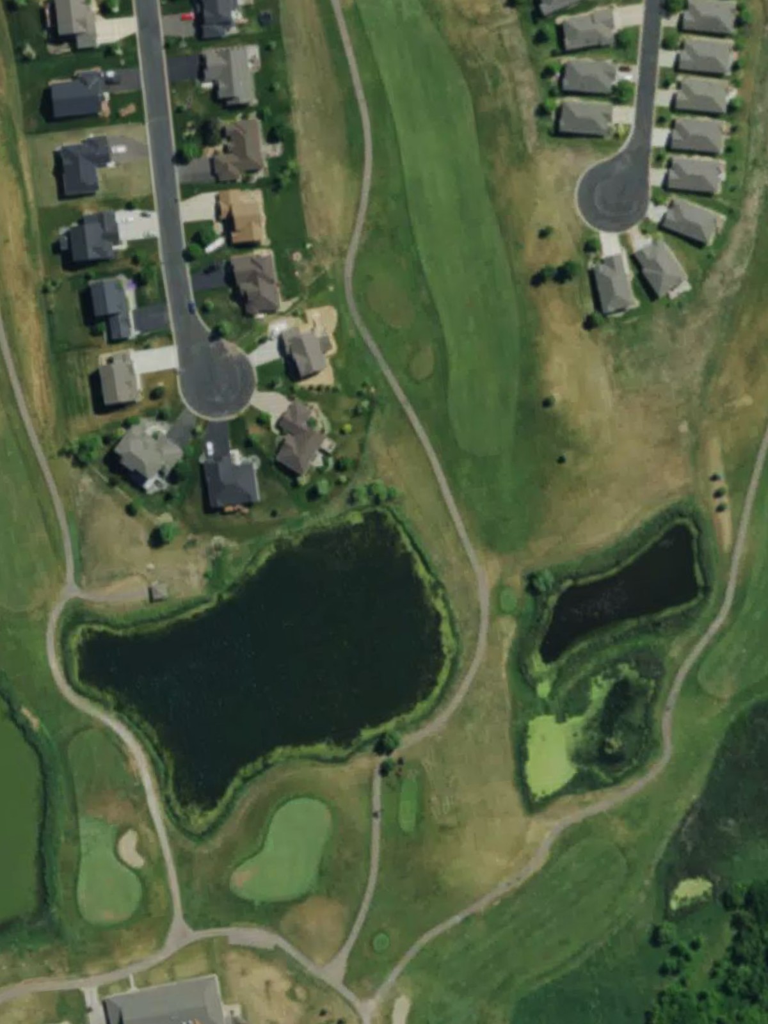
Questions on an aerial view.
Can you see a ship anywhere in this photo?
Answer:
No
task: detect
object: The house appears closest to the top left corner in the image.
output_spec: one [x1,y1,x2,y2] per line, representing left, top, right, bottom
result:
[45,0,97,48]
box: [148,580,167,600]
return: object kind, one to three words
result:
gazebo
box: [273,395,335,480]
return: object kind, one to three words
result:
house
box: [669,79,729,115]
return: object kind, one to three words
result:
house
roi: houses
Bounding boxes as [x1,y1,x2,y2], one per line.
[666,119,725,153]
[673,39,733,75]
[273,395,335,480]
[214,188,264,245]
[49,70,104,117]
[200,0,247,37]
[58,210,119,262]
[561,61,617,93]
[112,417,185,496]
[276,325,333,379]
[662,158,720,192]
[669,79,729,115]
[561,11,618,51]
[631,237,688,302]
[61,134,112,196]
[677,0,736,33]
[658,197,723,246]
[591,250,633,315]
[209,119,264,183]
[87,279,131,341]
[204,452,258,507]
[45,0,97,48]
[201,47,255,104]
[226,253,280,314]
[98,347,138,407]
[558,102,615,135]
